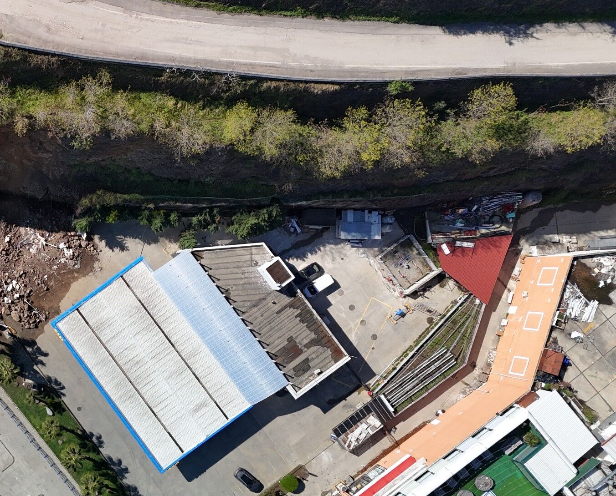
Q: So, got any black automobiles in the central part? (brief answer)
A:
Yes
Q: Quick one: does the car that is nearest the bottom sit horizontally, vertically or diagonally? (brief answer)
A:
diagonally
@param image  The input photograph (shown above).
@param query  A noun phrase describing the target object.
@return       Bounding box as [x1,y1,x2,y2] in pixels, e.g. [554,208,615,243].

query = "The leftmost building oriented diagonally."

[175,241,353,399]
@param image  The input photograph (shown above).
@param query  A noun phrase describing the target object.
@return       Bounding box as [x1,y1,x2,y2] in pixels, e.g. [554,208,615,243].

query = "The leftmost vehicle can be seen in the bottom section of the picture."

[236,466,262,494]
